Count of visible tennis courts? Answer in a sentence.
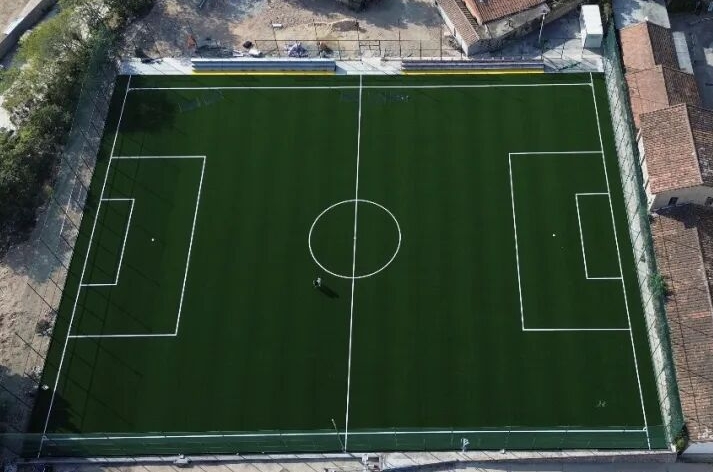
The photo contains no tennis courts.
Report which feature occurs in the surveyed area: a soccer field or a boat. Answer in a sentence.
The one in the frame is a soccer field.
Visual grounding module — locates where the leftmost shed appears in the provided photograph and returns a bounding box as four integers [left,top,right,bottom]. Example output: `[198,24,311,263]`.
[432,0,483,54]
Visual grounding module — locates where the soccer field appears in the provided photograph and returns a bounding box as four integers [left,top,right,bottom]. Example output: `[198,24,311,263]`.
[26,71,670,459]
